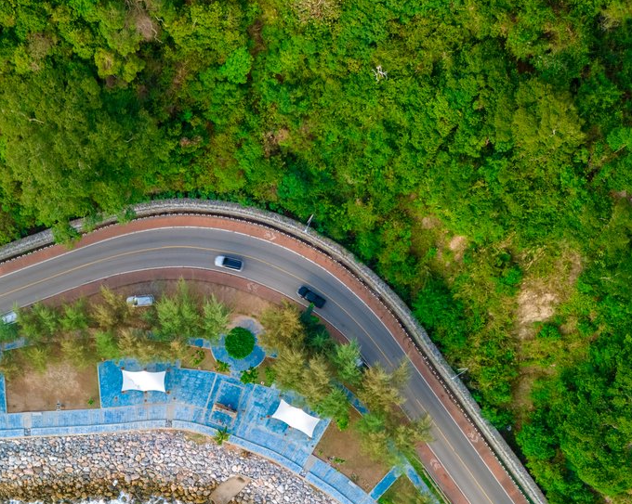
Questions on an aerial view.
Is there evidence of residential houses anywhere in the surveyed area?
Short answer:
No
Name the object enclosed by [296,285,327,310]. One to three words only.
truck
